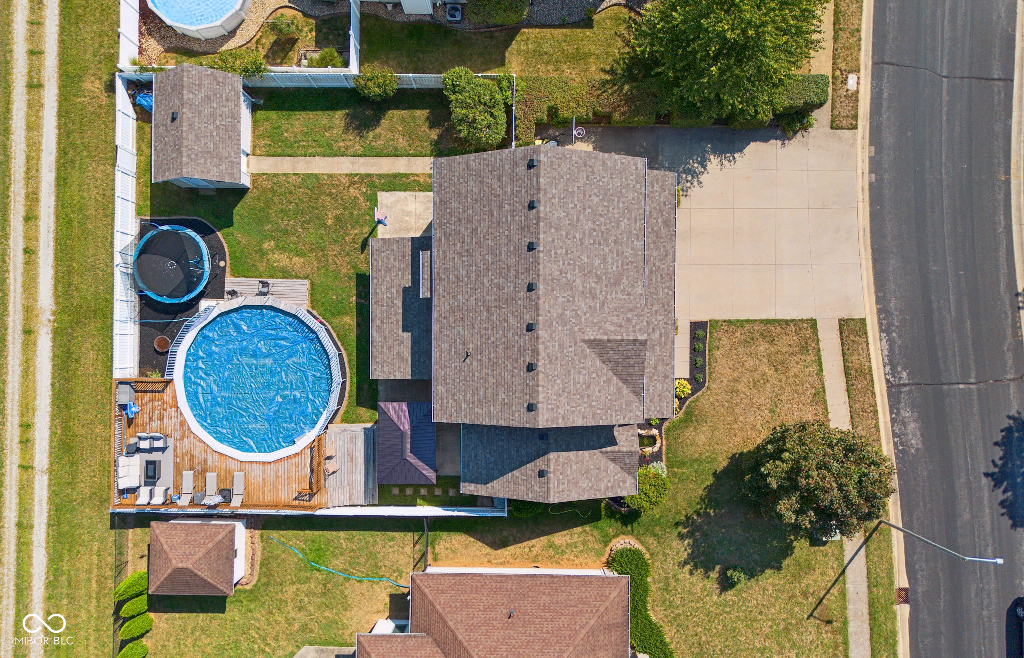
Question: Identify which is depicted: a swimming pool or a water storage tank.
swimming pool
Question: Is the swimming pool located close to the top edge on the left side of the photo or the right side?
left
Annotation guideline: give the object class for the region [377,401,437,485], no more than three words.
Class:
gazebo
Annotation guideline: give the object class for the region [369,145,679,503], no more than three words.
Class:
house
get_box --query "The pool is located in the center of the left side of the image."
[173,292,344,461]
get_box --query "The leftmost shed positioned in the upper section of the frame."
[151,64,268,198]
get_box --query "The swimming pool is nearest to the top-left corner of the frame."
[147,0,260,38]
